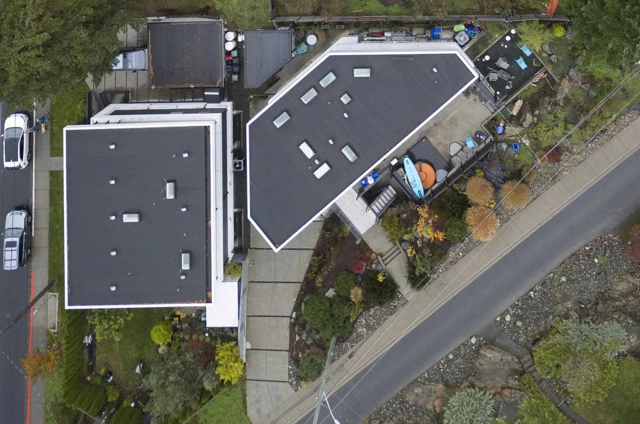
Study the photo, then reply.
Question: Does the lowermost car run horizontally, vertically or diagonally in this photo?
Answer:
vertically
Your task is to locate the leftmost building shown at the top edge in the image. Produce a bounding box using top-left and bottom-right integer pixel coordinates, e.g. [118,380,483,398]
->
[146,15,230,89]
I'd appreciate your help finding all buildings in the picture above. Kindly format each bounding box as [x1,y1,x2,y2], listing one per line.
[246,27,483,252]
[244,26,294,88]
[146,15,230,89]
[64,91,245,327]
